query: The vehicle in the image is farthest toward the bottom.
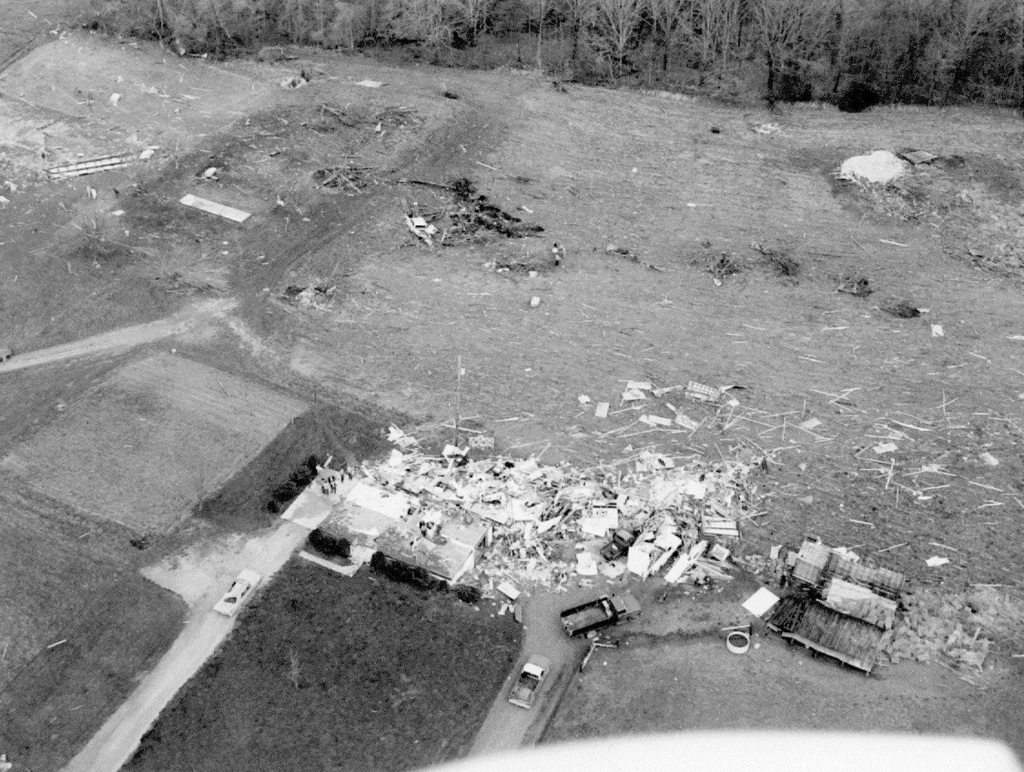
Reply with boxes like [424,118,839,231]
[509,652,553,710]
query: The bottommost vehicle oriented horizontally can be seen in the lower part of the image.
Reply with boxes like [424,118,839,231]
[558,593,645,640]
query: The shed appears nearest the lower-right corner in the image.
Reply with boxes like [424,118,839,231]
[767,594,888,678]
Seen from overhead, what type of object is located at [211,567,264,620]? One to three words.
car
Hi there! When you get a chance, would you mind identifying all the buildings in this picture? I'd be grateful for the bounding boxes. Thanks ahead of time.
[767,594,888,678]
[792,534,833,583]
[311,472,504,596]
